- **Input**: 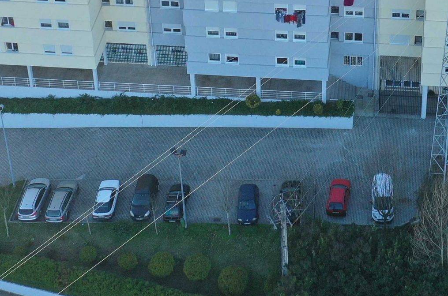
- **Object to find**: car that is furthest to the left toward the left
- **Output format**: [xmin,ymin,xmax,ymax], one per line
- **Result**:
[13,179,51,222]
